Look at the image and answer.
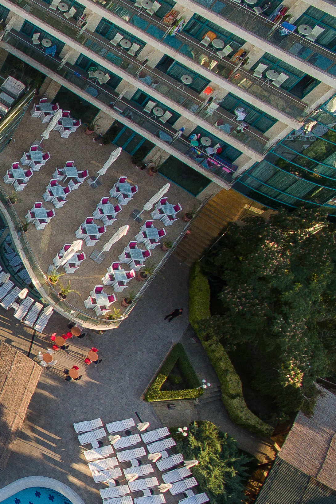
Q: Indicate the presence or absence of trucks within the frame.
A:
No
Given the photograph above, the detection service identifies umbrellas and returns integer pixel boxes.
[137,454,156,465]
[42,242,76,276]
[29,109,60,150]
[115,474,136,486]
[148,483,170,496]
[88,229,125,266]
[129,187,167,224]
[124,423,146,436]
[97,435,118,447]
[85,150,120,190]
